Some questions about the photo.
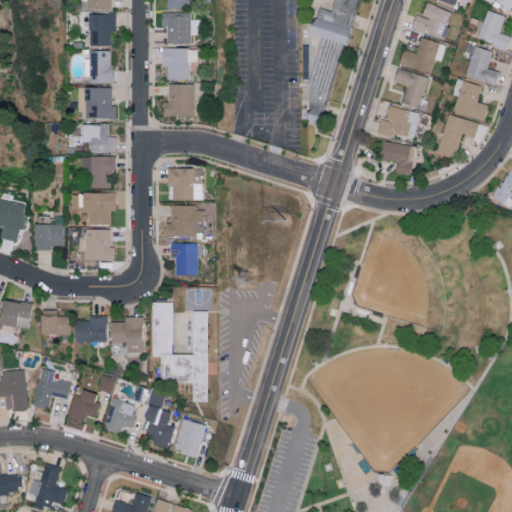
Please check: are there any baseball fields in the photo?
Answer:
Yes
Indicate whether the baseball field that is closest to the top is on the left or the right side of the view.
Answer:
right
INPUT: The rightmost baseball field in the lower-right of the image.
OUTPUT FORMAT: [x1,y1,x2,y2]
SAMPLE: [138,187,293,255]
[422,446,512,512]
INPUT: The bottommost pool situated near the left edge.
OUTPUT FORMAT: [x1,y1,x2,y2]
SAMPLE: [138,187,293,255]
[23,354,40,368]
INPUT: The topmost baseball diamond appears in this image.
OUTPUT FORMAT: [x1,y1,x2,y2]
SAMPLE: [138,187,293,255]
[354,223,430,324]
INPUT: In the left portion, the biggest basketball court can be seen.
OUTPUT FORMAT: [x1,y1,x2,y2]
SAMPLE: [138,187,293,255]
[186,288,212,310]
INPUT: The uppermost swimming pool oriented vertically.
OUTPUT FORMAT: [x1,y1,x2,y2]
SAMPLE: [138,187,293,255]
[72,54,84,79]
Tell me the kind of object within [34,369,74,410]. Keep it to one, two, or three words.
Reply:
house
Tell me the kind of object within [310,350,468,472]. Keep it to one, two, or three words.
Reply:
baseball field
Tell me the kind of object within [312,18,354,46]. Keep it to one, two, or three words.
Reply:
building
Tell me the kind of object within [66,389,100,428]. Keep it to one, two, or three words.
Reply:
house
